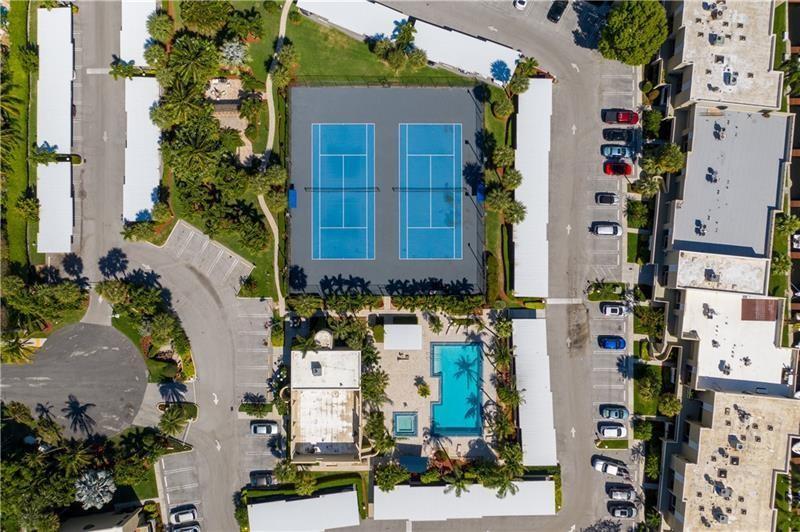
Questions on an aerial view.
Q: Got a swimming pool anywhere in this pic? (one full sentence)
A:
Yes, the image includes a swimming pool.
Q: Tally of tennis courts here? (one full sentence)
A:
The photo contains 2 tennis courts.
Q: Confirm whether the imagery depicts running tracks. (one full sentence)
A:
No, there is no running track in the image.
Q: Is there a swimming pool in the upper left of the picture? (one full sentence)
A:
No, there is no swimming pool in the upper left of the picture.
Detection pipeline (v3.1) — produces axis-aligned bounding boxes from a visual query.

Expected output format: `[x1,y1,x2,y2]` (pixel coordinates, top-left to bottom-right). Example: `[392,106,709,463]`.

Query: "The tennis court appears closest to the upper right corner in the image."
[394,123,469,260]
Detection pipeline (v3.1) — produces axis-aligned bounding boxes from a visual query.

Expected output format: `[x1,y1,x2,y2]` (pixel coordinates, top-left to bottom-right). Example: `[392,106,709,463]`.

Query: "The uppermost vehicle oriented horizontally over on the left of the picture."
[251,422,279,435]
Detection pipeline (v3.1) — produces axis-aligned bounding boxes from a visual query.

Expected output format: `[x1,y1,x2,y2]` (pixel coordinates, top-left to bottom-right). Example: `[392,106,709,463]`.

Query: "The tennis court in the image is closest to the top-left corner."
[305,123,380,260]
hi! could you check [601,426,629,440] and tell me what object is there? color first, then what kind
white car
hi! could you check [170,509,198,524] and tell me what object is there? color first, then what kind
white car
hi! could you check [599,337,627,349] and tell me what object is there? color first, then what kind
blue vehicle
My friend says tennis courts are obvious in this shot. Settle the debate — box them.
[305,123,380,260]
[394,123,469,260]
